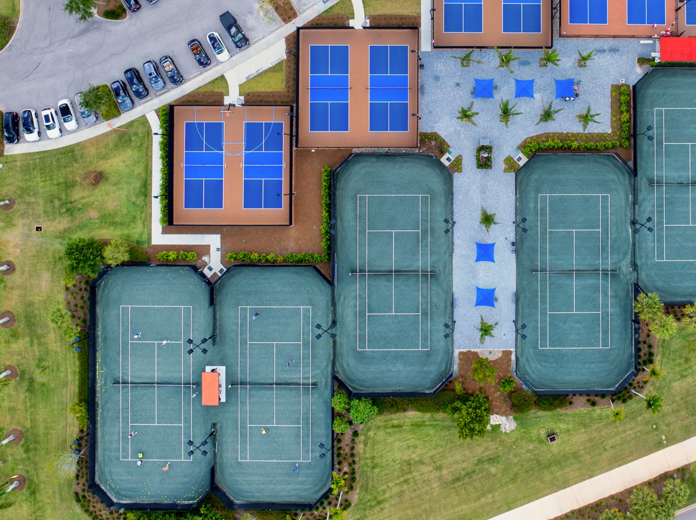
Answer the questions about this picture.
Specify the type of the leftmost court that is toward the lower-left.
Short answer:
tennis court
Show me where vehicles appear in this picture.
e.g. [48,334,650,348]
[158,53,185,86]
[186,37,214,69]
[1,111,22,145]
[17,108,44,143]
[206,31,231,62]
[56,98,82,132]
[121,65,150,101]
[123,0,142,14]
[217,9,251,51]
[39,106,64,139]
[142,58,167,92]
[108,77,136,112]
[72,91,100,126]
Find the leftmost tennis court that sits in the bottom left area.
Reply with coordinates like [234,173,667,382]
[96,266,214,502]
